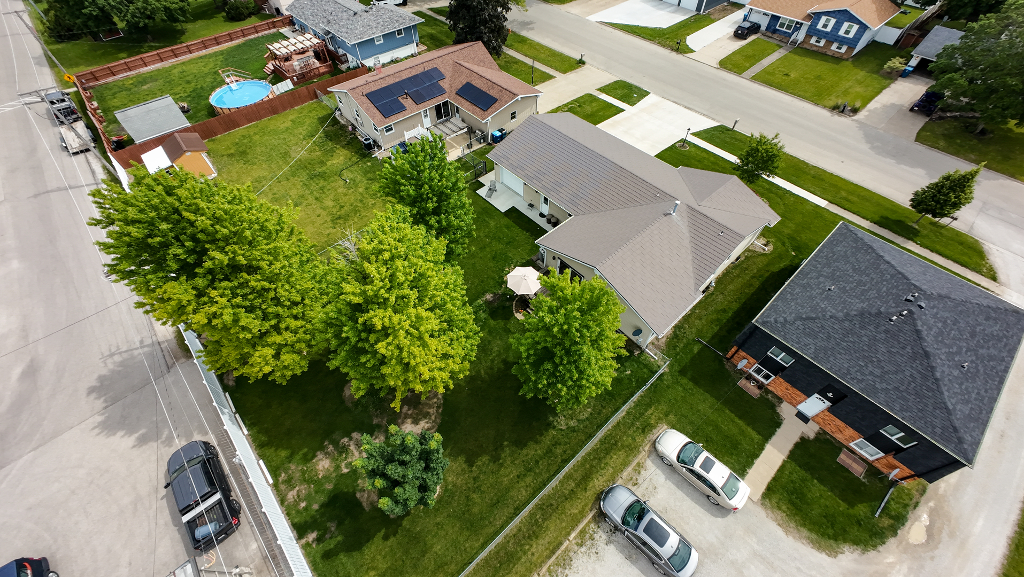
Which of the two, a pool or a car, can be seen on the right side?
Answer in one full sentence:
What appears on the right side is a car.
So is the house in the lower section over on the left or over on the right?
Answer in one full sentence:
The house in the lower section is on the right side of the image.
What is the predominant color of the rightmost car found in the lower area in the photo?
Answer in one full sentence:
From above, the rightmost car found in the lower area appears white.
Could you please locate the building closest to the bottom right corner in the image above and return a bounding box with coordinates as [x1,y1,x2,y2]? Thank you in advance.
[695,222,1024,517]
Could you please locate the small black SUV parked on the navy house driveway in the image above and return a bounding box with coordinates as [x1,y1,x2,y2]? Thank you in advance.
[733,16,761,36]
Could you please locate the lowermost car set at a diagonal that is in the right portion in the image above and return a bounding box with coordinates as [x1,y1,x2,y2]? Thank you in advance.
[599,483,702,577]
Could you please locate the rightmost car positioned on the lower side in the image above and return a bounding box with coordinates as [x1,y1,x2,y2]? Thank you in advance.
[654,426,750,514]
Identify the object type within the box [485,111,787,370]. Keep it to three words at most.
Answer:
house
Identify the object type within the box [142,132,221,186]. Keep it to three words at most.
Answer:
shed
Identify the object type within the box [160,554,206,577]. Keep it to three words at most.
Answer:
trailer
